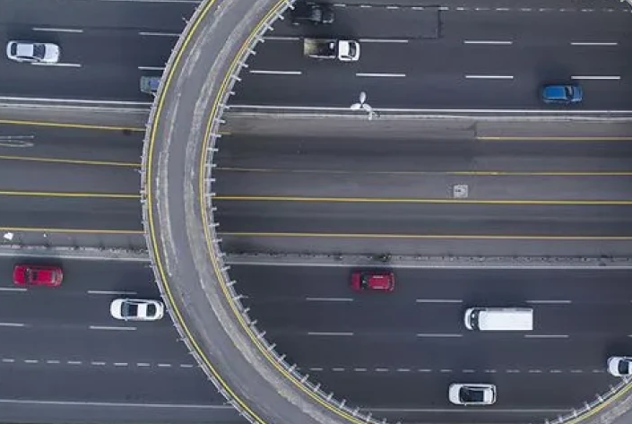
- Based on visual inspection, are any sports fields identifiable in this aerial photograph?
No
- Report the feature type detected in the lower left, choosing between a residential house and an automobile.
automobile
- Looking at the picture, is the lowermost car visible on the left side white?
Yes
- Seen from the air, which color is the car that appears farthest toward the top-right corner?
blue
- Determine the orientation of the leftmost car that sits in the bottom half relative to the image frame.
from left to right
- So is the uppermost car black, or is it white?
black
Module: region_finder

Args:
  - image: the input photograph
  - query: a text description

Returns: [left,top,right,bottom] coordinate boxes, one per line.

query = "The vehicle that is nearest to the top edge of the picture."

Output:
[286,0,336,25]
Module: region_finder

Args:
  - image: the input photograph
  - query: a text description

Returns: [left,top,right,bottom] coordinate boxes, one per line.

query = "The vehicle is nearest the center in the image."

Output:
[351,269,396,294]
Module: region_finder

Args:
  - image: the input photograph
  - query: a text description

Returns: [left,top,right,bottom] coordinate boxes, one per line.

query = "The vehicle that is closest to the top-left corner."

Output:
[6,39,62,64]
